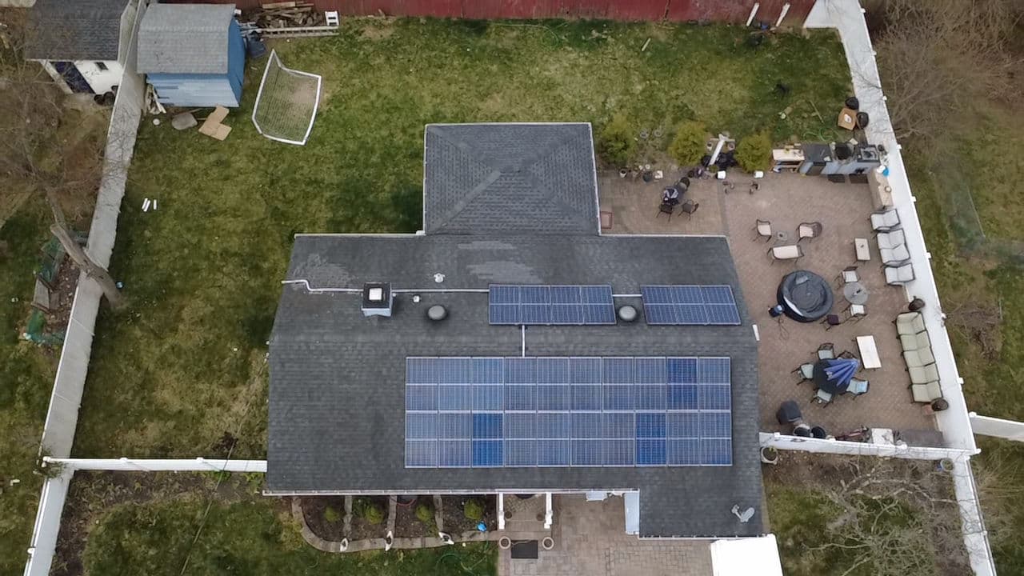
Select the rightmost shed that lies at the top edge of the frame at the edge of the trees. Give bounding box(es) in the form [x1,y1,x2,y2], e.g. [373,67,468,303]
[140,6,249,106]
